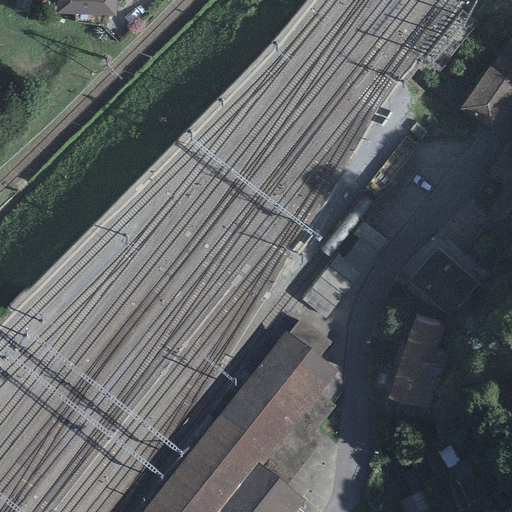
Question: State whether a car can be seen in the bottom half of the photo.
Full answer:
No, in the bottom half of the photo there is no car.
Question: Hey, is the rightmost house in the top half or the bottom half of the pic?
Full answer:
The top half of the photo is where the rightmost house is.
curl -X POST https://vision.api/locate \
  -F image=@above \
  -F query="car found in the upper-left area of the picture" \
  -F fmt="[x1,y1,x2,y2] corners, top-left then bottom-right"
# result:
[124,4,146,24]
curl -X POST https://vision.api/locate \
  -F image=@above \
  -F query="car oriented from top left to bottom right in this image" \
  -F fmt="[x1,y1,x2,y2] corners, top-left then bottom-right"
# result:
[412,174,434,194]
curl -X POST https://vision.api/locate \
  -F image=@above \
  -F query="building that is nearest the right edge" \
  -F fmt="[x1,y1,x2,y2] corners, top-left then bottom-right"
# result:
[462,65,512,130]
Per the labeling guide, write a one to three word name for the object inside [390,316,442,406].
house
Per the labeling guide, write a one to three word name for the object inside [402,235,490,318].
house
